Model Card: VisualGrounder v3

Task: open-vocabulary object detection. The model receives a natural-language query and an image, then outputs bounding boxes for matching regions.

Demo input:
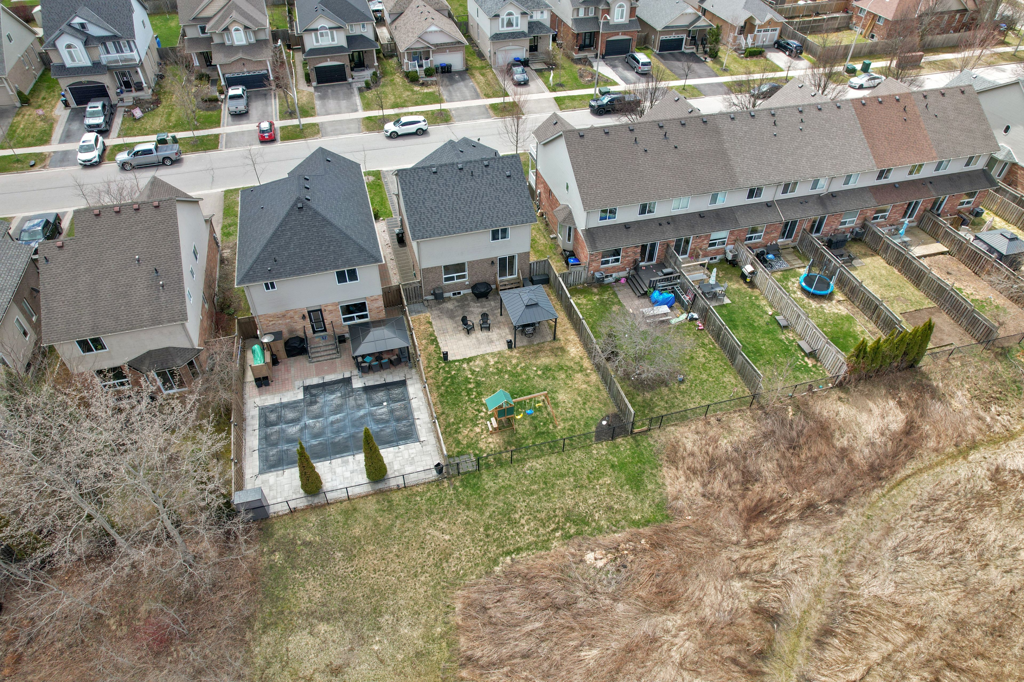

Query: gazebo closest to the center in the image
[498,283,560,348]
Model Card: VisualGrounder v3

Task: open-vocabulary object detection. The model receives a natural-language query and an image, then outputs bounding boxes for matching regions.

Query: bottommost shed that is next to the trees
[232,485,268,523]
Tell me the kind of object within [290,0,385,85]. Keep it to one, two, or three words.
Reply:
house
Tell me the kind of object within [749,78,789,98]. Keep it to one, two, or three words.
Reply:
car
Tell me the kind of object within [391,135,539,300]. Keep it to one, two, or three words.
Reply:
house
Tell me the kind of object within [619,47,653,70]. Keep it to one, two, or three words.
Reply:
car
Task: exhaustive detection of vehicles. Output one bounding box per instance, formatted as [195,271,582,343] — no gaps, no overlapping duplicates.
[224,81,248,110]
[381,112,430,138]
[254,117,277,139]
[590,89,647,115]
[12,210,59,261]
[749,78,789,98]
[80,97,113,131]
[773,35,808,55]
[844,69,887,88]
[619,47,653,70]
[113,139,184,170]
[74,130,105,162]
[503,61,528,82]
